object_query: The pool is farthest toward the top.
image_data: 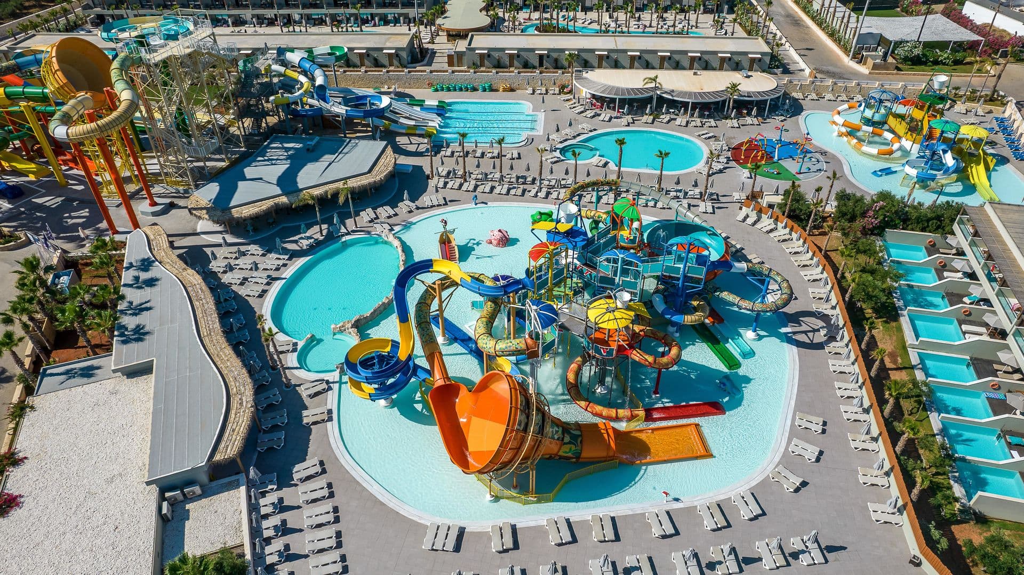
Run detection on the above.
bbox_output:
[524,23,703,36]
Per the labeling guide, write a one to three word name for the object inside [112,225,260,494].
building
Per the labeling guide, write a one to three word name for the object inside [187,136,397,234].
building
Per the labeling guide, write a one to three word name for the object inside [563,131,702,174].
swimming pool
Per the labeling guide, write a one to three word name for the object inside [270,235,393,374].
swimming pool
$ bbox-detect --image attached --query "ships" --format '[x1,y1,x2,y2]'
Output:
[430,208,461,261]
